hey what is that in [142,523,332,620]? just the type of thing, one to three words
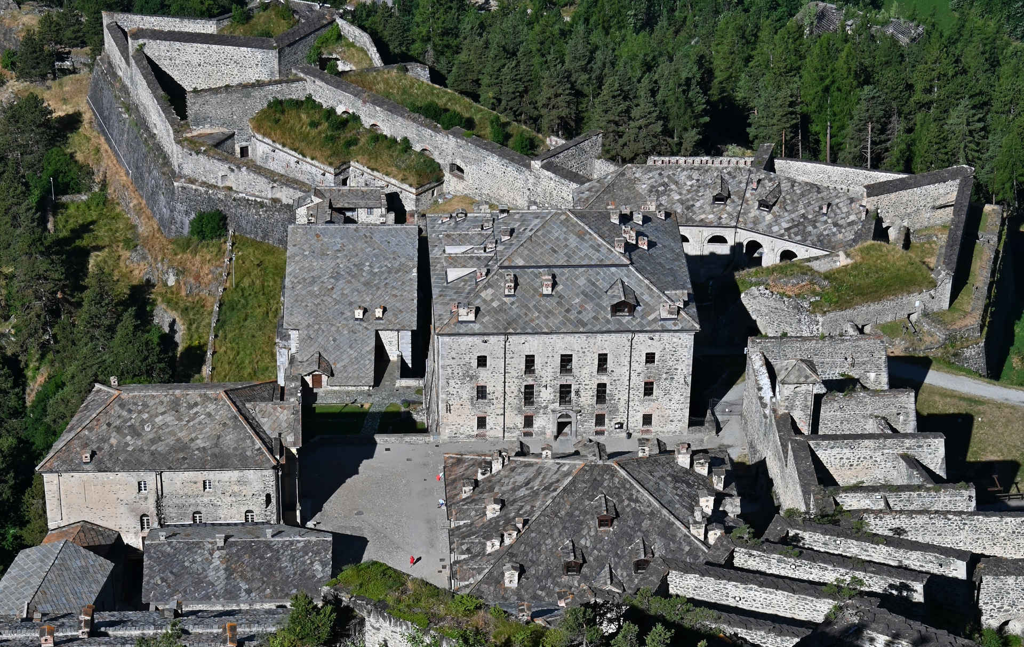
shed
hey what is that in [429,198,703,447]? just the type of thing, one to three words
building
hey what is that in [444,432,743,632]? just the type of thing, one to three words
building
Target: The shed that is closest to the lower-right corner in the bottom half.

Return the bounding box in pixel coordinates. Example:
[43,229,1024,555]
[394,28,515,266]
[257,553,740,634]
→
[772,356,820,431]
